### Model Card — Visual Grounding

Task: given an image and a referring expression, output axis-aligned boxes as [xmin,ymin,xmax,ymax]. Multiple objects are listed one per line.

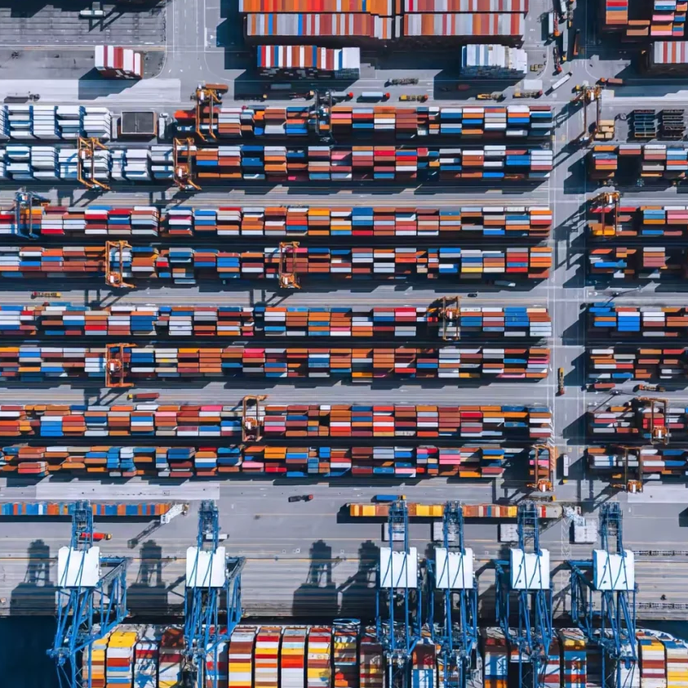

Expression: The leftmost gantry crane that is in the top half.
[13,191,49,245]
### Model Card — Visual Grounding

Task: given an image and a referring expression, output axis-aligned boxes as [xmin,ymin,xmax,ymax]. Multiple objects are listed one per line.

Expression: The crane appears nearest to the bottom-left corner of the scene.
[42,498,133,688]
